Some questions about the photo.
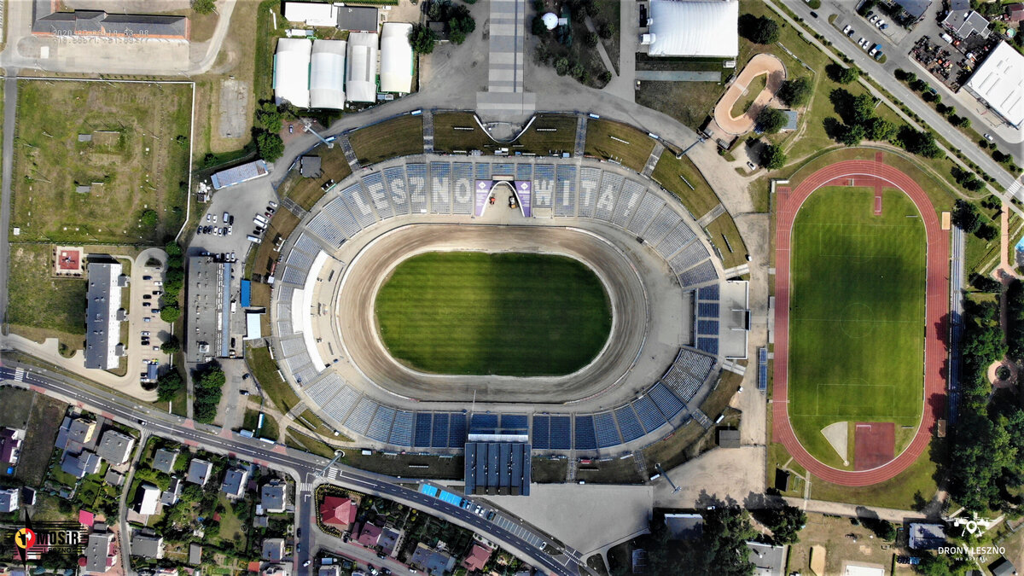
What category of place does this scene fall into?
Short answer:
sports ground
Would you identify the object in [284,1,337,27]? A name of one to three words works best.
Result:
shed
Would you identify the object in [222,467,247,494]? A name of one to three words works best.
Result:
house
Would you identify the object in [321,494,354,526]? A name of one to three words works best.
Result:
house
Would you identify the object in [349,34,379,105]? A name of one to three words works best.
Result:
building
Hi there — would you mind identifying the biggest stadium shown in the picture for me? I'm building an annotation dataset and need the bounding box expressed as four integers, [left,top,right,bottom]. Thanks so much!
[245,111,750,484]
